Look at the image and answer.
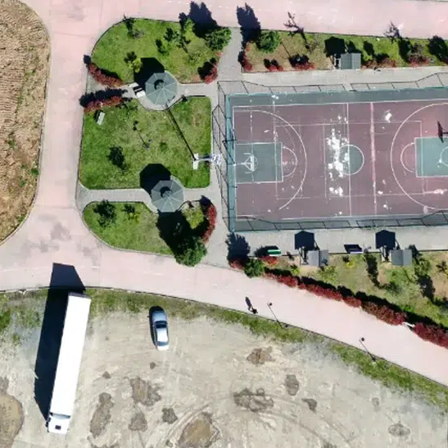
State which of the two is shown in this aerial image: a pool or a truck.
truck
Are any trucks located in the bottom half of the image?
Yes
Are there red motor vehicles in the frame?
No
